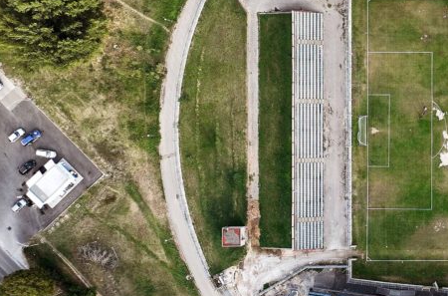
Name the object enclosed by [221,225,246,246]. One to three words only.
shed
